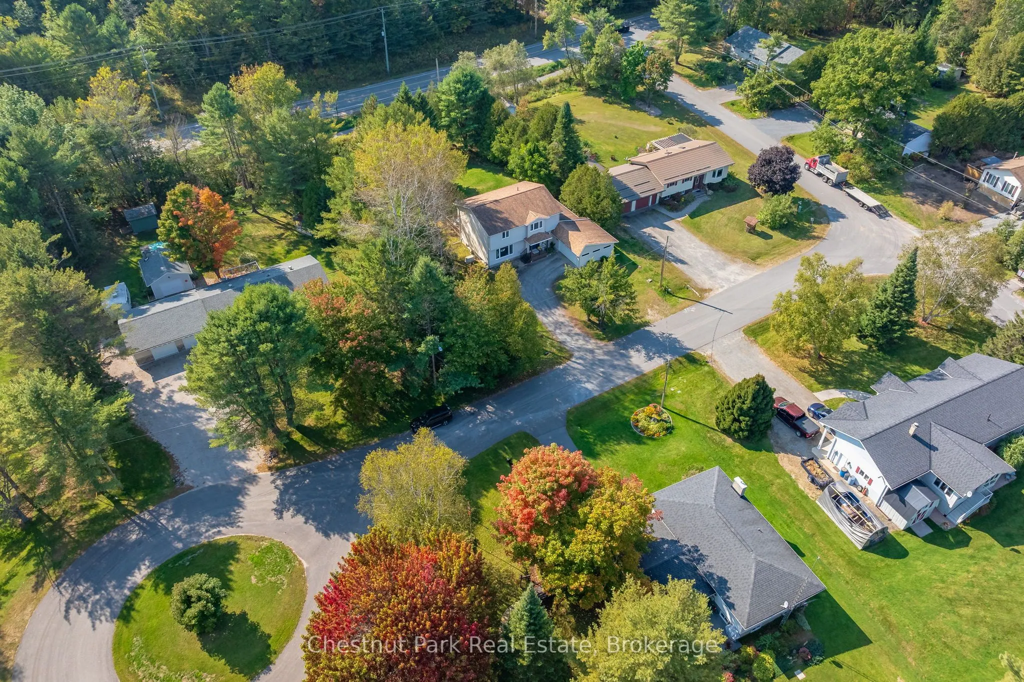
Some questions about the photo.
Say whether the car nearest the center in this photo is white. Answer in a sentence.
No, the car nearest the center is black.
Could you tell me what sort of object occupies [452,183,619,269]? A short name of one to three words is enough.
house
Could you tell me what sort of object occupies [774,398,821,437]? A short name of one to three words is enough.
truck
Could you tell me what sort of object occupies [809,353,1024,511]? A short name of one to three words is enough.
house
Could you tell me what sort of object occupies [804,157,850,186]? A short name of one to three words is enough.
truck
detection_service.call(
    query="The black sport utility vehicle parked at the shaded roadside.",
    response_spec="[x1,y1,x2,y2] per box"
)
[410,404,455,434]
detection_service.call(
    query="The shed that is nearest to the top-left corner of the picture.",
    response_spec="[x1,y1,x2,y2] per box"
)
[124,205,160,233]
